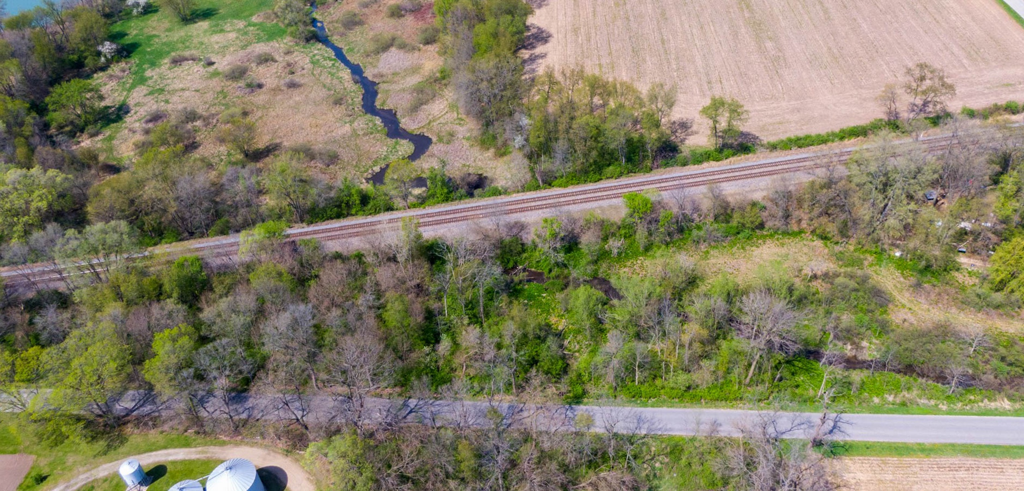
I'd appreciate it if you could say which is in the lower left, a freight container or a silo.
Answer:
silo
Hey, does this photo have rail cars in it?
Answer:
No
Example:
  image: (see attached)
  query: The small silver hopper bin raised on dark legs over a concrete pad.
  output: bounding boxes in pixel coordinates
[117,457,154,491]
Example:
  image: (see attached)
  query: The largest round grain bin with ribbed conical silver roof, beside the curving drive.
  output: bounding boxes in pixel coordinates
[204,456,267,491]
